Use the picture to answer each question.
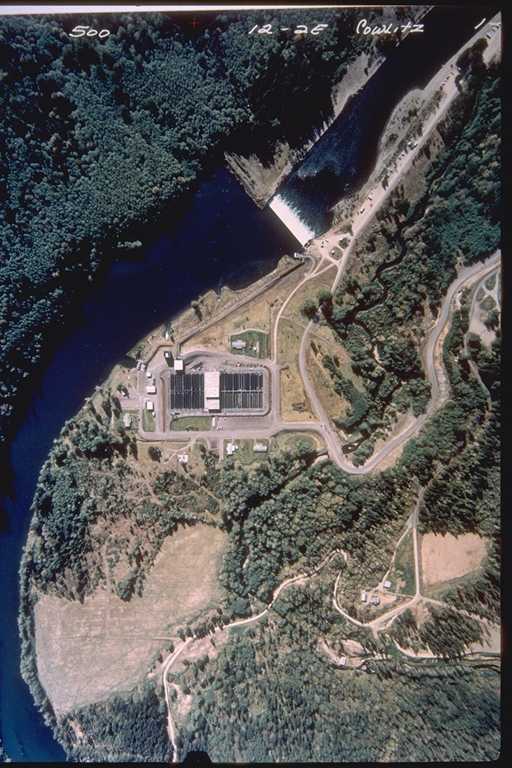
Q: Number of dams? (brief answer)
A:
1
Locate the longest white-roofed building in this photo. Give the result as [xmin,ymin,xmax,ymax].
[205,370,220,410]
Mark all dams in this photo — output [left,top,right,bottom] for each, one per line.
[265,194,314,256]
